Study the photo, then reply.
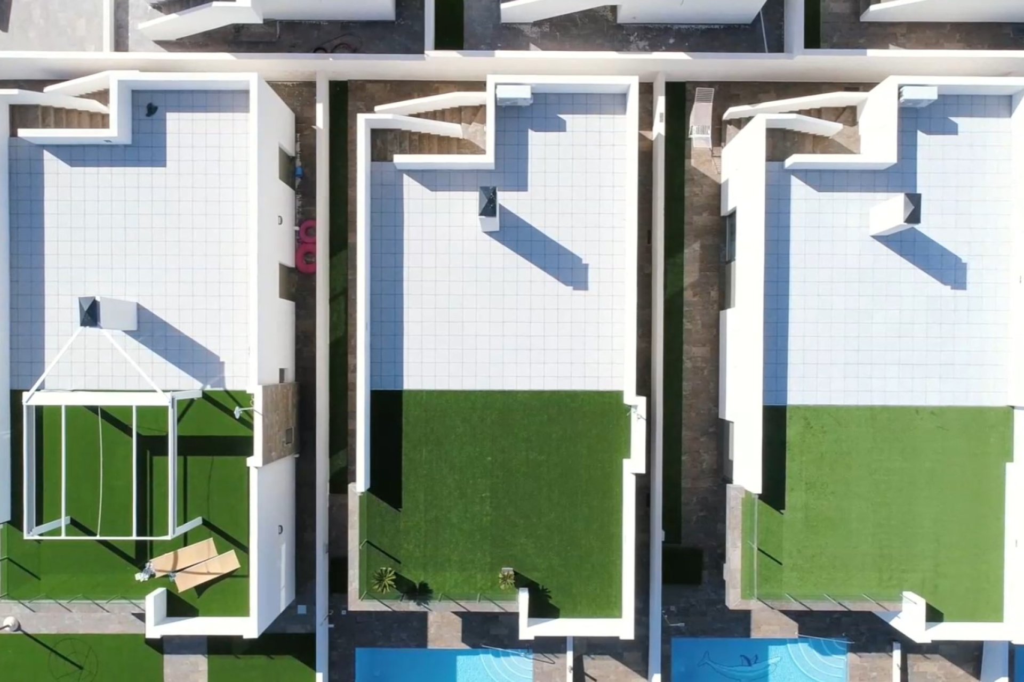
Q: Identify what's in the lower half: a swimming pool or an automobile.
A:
swimming pool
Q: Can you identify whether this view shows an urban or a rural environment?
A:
urban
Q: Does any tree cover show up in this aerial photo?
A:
No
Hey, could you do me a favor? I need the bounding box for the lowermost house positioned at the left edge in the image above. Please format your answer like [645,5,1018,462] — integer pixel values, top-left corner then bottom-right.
[0,68,305,638]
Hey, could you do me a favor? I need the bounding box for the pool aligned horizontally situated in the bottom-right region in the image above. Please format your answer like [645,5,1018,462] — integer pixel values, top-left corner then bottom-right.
[670,637,848,682]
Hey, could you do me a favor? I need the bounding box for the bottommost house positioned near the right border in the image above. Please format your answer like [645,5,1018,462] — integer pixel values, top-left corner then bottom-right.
[717,75,1024,643]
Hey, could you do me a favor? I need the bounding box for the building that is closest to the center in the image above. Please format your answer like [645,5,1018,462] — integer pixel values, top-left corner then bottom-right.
[348,75,646,639]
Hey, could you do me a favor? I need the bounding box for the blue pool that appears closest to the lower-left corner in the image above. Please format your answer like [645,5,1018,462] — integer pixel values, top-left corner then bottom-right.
[355,648,532,682]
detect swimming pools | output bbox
[1013,642,1024,682]
[670,637,848,682]
[355,648,532,682]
